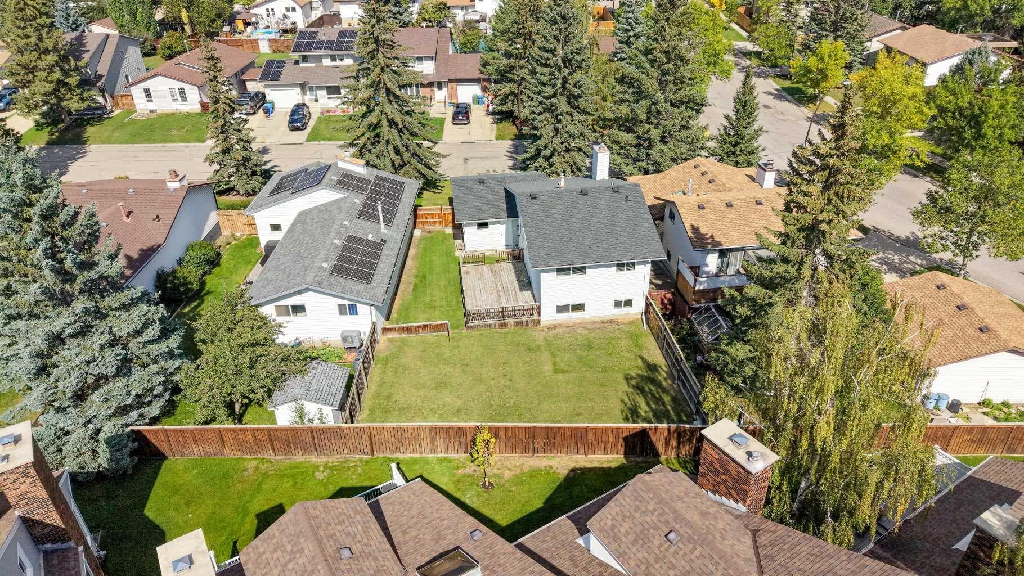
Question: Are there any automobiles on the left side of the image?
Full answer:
Yes, there is an automobile on the left side of the image.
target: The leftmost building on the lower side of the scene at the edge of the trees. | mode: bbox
[0,420,113,576]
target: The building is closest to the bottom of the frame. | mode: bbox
[151,526,219,576]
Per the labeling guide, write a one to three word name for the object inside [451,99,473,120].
car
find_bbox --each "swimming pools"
[244,30,279,44]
